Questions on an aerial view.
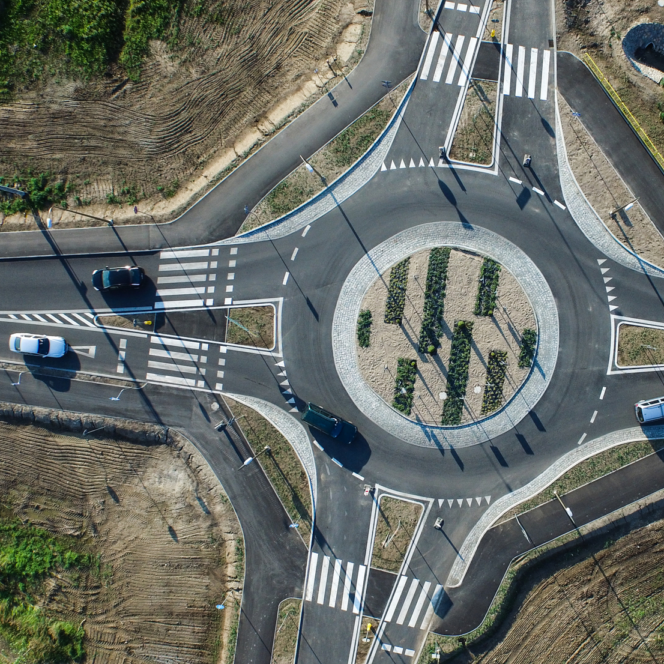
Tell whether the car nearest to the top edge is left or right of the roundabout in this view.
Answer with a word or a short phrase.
to its left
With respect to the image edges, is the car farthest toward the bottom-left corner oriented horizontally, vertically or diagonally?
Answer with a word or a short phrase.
horizontally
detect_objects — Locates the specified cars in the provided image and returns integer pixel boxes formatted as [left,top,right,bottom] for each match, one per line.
[90,265,146,293]
[7,331,71,360]
[301,401,363,443]
[633,396,664,423]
